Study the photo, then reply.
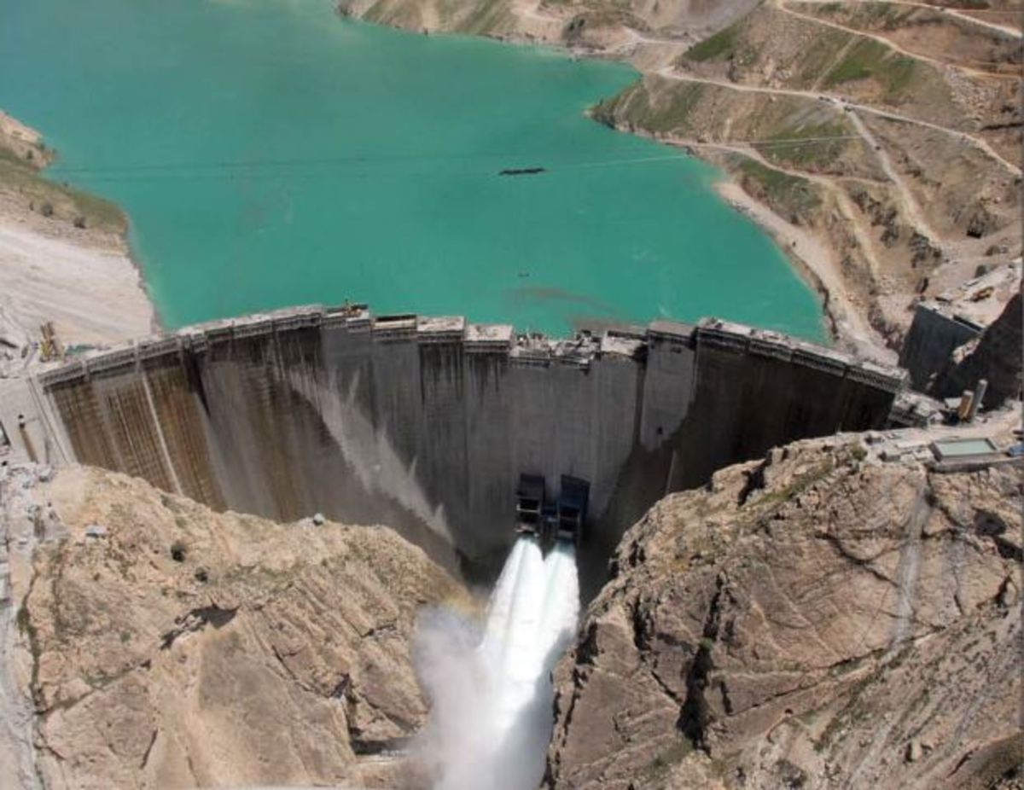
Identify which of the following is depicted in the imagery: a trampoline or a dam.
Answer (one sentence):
There is a dam in the scene.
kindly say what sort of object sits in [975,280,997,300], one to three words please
work vehicle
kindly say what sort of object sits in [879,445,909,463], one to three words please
building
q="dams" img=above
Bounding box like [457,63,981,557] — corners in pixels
[35,302,910,597]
